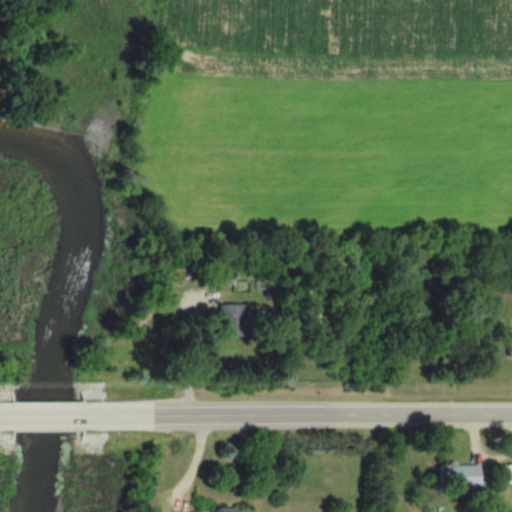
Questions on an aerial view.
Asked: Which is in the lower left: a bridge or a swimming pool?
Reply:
bridge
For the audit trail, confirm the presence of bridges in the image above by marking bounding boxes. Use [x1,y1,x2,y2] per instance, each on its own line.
[6,388,88,445]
